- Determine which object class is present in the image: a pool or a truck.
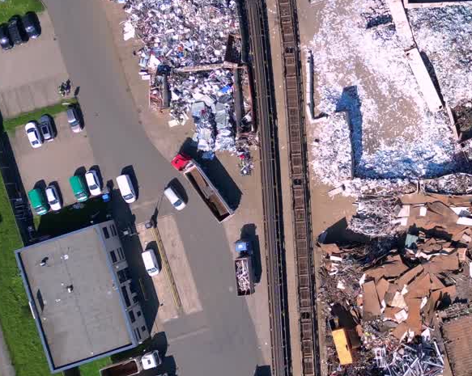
truck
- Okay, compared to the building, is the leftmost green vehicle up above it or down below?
above it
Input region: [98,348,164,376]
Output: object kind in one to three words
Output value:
truck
